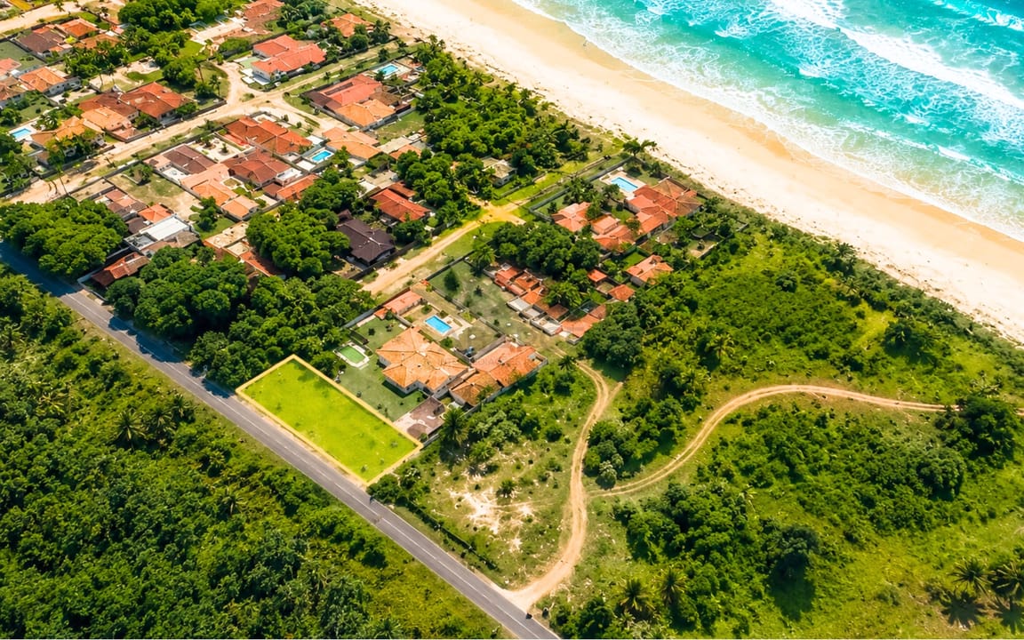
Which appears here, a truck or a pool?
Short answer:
pool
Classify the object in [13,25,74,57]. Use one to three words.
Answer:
house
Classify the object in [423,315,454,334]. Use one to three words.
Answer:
swimming pool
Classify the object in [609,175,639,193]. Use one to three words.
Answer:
swimming pool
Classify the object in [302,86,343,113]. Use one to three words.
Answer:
shed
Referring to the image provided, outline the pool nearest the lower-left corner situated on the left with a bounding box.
[340,343,369,366]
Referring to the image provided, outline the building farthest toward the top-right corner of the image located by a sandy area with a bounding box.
[629,178,705,236]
